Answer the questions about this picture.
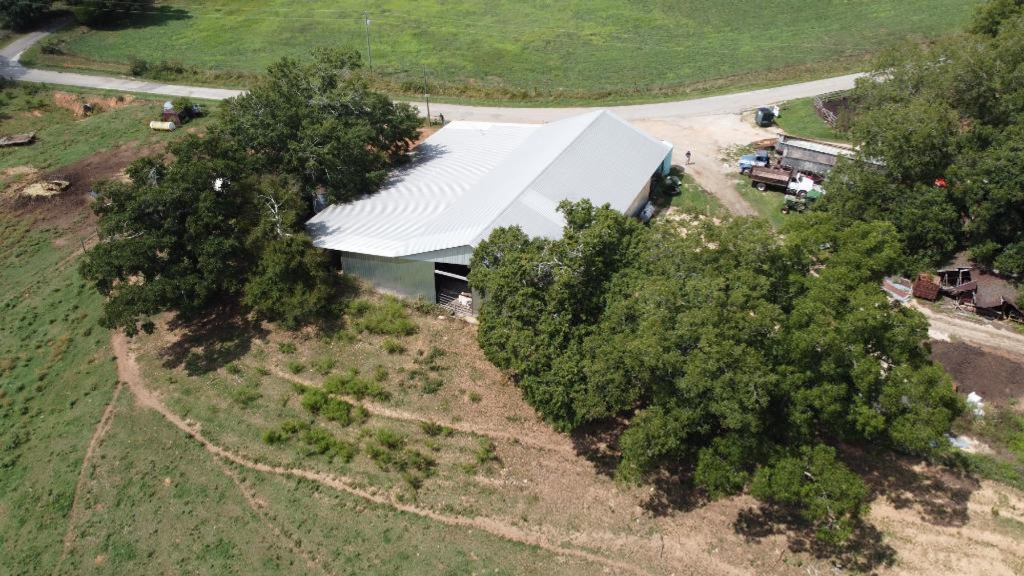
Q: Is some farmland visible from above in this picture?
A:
Yes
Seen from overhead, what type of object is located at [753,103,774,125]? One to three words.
vehicle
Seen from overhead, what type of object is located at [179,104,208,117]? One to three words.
vehicle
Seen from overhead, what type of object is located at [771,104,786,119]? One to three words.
car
